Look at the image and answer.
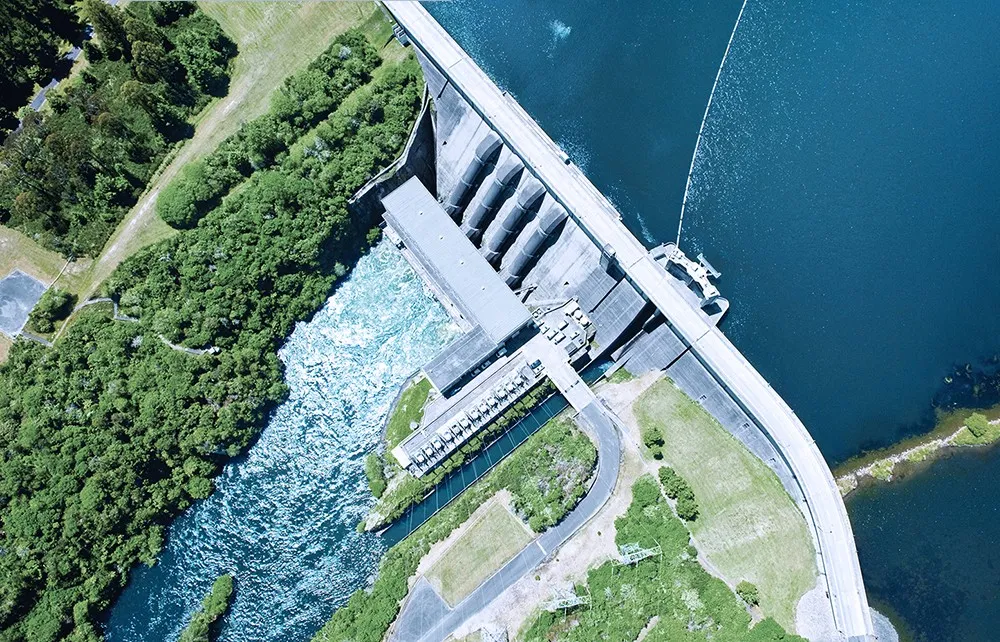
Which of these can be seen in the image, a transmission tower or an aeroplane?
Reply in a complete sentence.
Of the two, only a transmission tower appears.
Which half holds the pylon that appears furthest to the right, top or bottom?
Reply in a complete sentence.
It is in the bottom half that the pylon that appears furthest to the right appears.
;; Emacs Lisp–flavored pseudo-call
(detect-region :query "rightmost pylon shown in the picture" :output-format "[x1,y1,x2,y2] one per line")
[610,533,662,565]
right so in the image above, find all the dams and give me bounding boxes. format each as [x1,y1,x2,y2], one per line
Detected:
[379,0,877,642]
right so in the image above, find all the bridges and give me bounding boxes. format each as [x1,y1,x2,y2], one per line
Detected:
[548,358,599,413]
